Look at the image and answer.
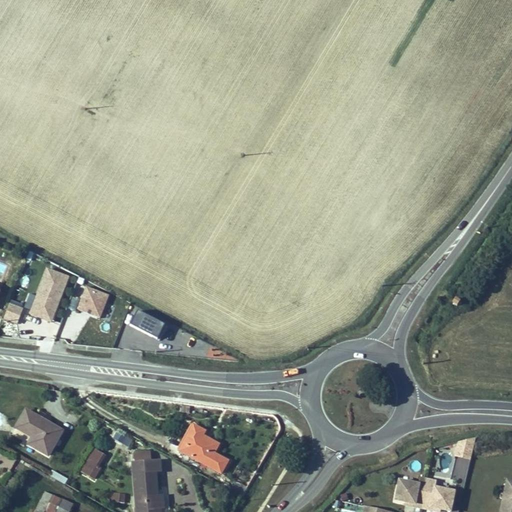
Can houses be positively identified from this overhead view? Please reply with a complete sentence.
Yes, a house appears in the view.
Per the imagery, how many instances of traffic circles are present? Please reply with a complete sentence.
The picture shows 1 traffic circle.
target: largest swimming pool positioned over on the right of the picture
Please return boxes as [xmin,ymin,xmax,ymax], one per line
[440,453,452,472]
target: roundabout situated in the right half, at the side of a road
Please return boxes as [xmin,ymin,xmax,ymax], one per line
[302,340,416,454]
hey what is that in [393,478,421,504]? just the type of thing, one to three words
house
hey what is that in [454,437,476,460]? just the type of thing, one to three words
building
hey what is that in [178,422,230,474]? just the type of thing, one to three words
house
